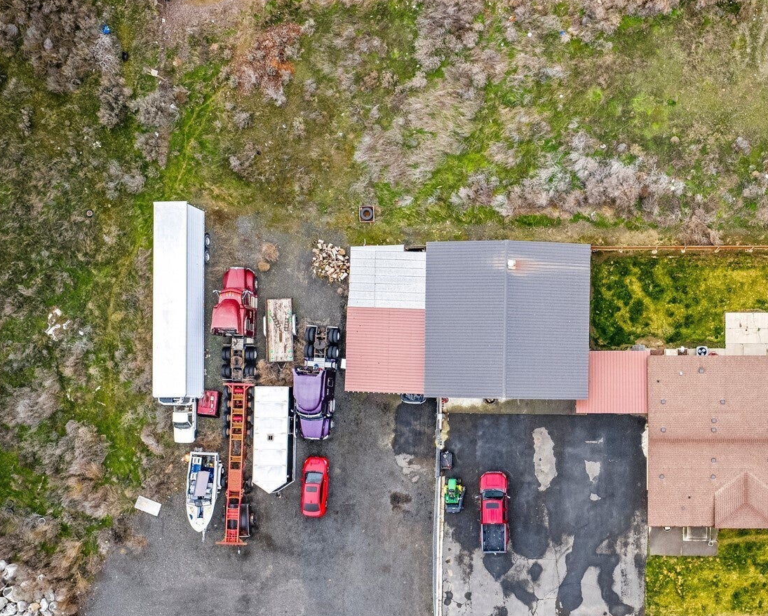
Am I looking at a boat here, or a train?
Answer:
boat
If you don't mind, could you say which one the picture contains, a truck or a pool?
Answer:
truck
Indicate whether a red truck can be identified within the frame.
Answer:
Yes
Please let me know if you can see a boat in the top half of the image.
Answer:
No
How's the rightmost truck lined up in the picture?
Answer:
vertically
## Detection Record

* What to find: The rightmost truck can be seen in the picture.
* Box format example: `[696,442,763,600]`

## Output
[476,471,510,554]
